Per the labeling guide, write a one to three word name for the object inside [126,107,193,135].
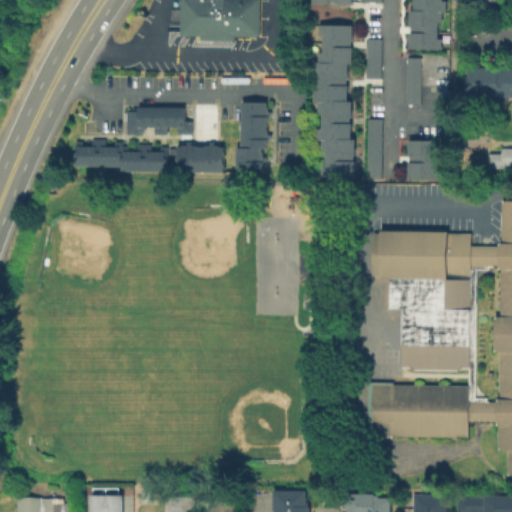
building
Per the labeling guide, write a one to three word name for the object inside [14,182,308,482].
sports field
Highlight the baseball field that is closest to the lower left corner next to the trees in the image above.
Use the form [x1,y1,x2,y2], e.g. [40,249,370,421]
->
[20,432,77,475]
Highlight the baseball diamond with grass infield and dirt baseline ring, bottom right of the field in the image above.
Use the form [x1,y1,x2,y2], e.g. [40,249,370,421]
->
[220,371,310,476]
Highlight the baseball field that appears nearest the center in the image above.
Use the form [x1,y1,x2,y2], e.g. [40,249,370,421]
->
[163,200,257,293]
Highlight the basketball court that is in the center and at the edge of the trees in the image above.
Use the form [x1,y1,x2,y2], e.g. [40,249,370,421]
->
[257,218,299,316]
